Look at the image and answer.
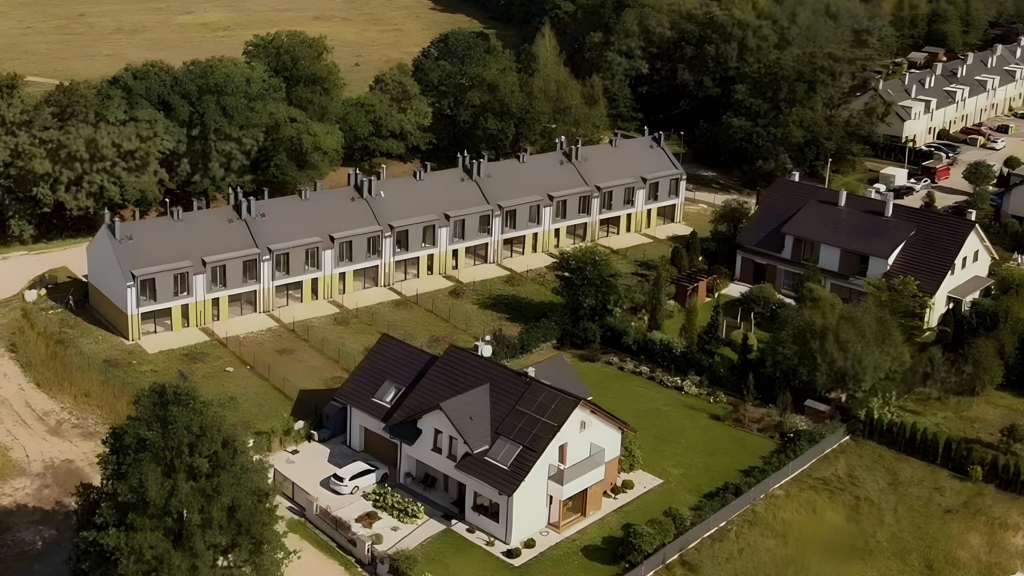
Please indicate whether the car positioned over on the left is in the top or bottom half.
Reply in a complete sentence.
Seen from above, the car positioned over on the left lies in the bottom half of the view.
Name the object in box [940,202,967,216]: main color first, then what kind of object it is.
black car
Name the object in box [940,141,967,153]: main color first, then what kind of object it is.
black vehicle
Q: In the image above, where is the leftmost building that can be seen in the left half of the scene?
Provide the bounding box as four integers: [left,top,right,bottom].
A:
[85,187,269,342]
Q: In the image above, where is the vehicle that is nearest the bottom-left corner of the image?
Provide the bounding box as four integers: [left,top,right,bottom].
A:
[331,455,393,491]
